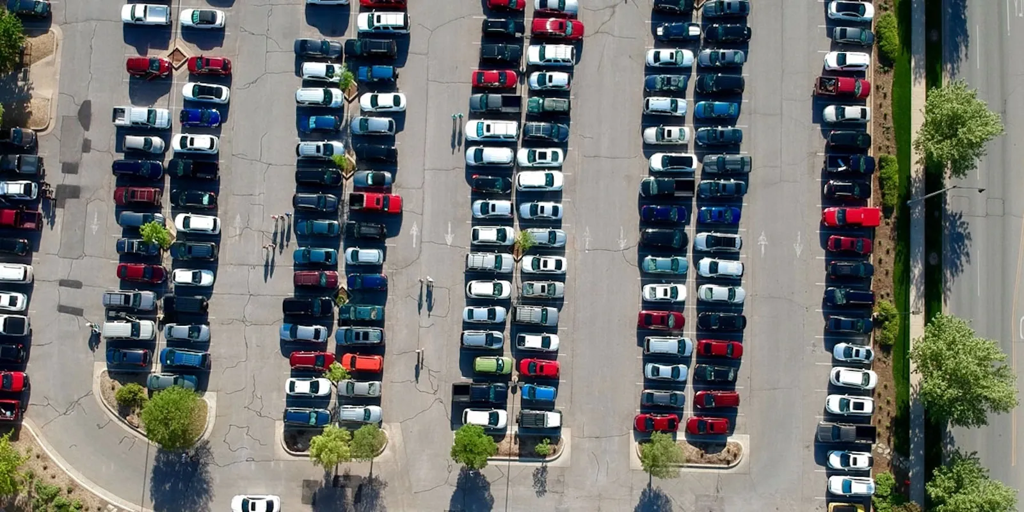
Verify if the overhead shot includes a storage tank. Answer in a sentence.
No, no storage tank is visible in the view.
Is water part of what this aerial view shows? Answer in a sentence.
No, water can't be seen anywhere here.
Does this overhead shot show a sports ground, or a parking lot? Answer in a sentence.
The area seen from above is a parking lot.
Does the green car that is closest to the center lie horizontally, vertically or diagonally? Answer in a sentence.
In this picture, the green car that is closest to the center is oriented horizontally.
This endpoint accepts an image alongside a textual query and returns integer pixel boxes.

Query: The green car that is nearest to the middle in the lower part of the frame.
[474,356,513,376]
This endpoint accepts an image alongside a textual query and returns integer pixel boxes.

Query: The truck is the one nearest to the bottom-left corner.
[0,400,23,421]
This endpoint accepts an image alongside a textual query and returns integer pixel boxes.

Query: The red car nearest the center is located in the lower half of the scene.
[520,358,560,378]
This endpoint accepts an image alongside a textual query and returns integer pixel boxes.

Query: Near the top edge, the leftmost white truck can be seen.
[122,1,173,26]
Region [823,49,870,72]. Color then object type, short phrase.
white car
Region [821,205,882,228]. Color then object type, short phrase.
red truck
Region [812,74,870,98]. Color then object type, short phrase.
red truck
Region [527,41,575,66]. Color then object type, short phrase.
white car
